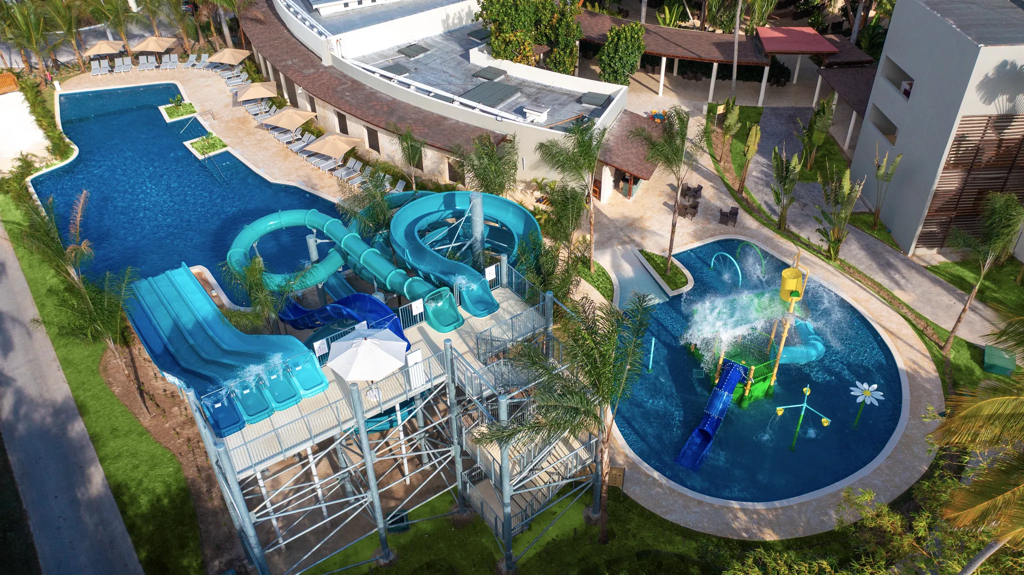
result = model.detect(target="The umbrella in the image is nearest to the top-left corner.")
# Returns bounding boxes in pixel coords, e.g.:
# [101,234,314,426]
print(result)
[84,41,129,73]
